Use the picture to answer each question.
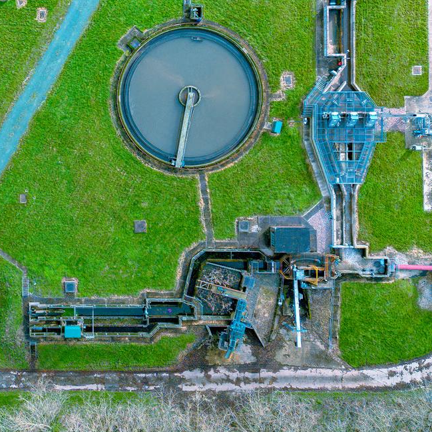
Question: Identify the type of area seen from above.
industrial area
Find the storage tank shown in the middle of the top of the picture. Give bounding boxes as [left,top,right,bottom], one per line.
[116,20,261,171]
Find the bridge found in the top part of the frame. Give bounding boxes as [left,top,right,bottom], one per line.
[173,92,198,171]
